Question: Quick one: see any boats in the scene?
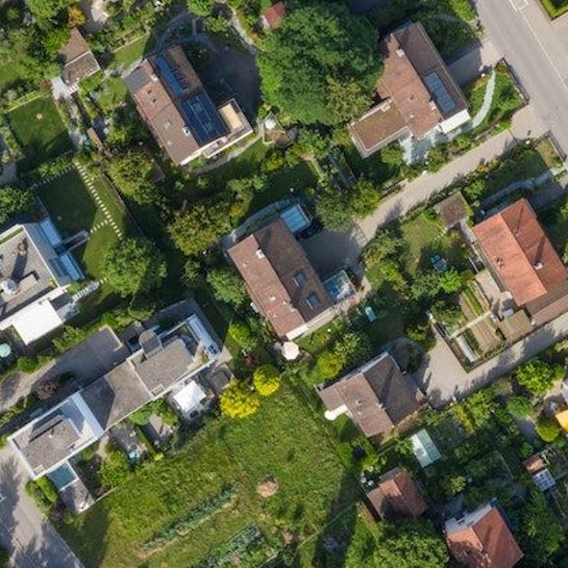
No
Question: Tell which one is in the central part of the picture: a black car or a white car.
black car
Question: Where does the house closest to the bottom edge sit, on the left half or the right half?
right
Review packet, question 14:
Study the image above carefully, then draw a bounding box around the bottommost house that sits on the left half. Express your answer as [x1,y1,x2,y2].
[7,314,237,479]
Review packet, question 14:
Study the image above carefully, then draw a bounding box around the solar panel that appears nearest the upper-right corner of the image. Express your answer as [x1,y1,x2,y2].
[427,72,456,110]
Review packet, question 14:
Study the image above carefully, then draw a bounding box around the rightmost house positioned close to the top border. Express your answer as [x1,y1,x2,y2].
[347,23,471,160]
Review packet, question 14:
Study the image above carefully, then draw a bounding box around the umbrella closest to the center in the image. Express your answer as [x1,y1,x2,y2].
[281,341,299,360]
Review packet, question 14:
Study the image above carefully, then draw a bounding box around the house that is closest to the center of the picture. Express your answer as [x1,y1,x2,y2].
[227,204,356,340]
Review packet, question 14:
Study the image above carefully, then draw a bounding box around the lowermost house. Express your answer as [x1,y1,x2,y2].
[446,503,529,568]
